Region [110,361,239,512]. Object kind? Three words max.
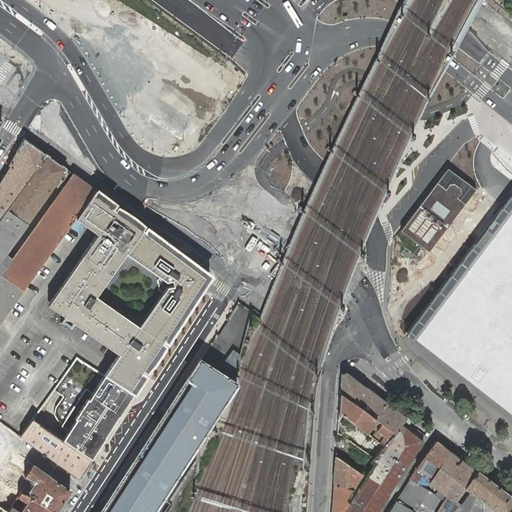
shed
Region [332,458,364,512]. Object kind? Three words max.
house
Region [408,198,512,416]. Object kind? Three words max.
building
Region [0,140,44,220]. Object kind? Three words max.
building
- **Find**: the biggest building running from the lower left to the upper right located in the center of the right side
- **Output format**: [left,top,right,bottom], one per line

[402,168,476,252]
